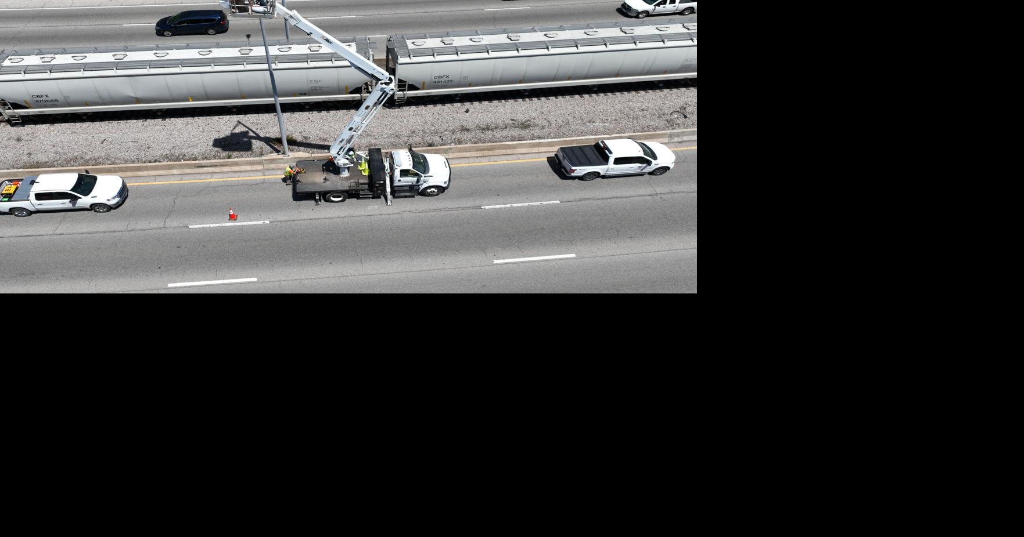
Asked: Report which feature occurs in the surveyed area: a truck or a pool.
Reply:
truck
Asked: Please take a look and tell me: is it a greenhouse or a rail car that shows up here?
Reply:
rail car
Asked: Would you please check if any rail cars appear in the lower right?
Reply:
No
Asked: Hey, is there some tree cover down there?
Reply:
No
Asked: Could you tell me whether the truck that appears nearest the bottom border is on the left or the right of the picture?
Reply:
left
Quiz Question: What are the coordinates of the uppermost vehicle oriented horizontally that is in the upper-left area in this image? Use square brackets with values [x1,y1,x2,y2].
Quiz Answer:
[154,7,229,35]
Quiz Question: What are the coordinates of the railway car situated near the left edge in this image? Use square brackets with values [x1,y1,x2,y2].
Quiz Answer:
[0,36,377,123]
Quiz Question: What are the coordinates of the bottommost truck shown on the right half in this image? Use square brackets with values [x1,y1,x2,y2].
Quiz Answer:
[555,136,678,179]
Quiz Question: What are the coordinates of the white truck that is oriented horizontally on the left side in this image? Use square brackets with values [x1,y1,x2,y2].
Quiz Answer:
[0,169,128,215]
